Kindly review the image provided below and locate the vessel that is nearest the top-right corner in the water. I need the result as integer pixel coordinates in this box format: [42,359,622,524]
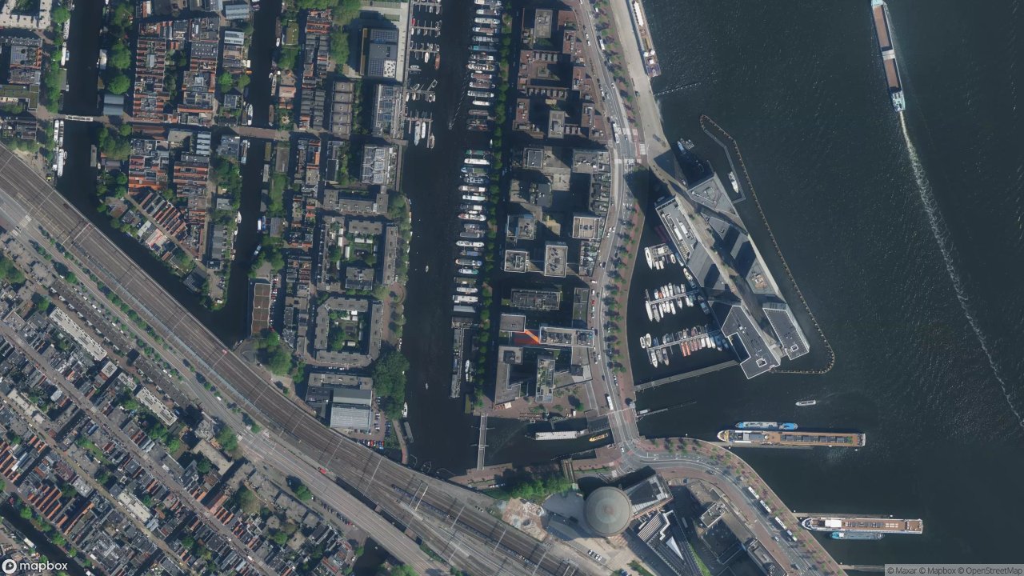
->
[871,0,906,112]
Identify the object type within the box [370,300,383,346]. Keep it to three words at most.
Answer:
building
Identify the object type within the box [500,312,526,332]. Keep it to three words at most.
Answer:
building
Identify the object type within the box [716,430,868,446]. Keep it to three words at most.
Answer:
ship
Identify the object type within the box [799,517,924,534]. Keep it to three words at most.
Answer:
ship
